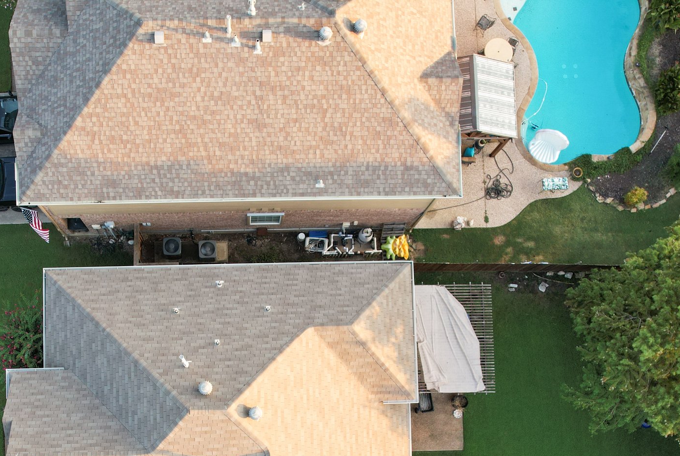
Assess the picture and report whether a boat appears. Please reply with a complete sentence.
No, there's no boat here.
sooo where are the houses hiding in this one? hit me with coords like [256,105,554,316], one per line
[8,0,464,255]
[2,258,420,456]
